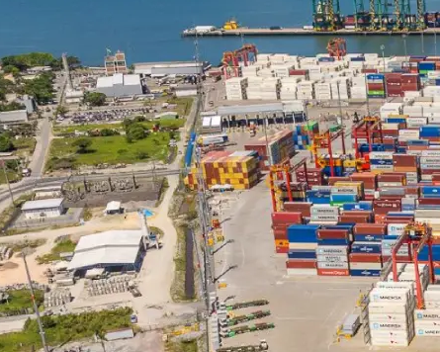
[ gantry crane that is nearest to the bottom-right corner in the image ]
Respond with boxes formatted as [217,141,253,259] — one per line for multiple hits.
[382,221,435,309]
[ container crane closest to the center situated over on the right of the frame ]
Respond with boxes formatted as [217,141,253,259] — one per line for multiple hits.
[265,151,309,214]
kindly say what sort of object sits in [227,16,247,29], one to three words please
boat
